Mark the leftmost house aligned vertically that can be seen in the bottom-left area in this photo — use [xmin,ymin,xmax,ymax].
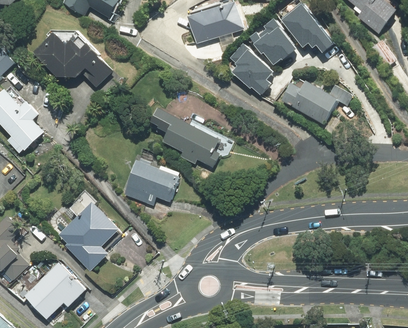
[0,217,30,284]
